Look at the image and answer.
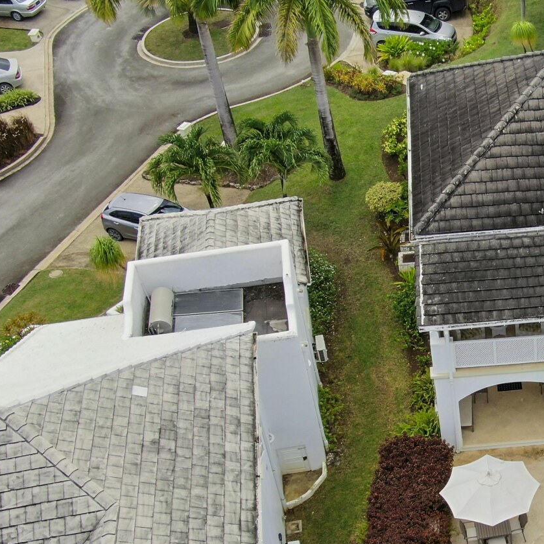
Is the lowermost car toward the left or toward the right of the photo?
left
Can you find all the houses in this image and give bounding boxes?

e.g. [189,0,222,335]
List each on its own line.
[403,49,544,452]
[0,194,339,544]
